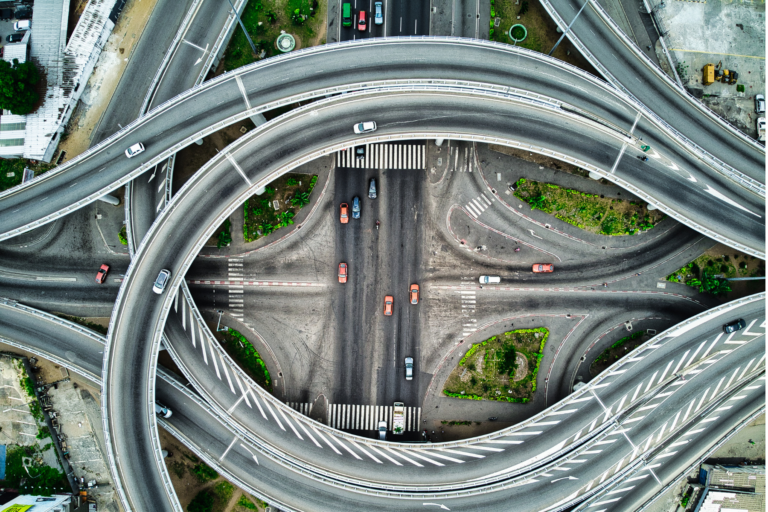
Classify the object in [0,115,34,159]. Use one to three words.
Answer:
shed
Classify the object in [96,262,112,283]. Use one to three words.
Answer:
car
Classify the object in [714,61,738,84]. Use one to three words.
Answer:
work vehicle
